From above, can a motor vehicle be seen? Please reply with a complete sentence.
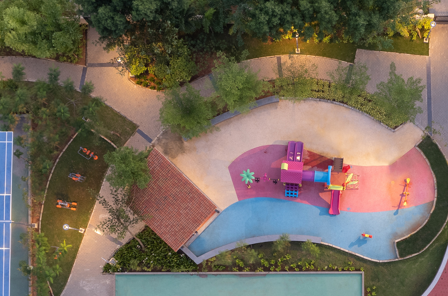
No, there appears to be no motor vehicle in this shot.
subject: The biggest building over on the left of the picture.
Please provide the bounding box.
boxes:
[128,147,221,253]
